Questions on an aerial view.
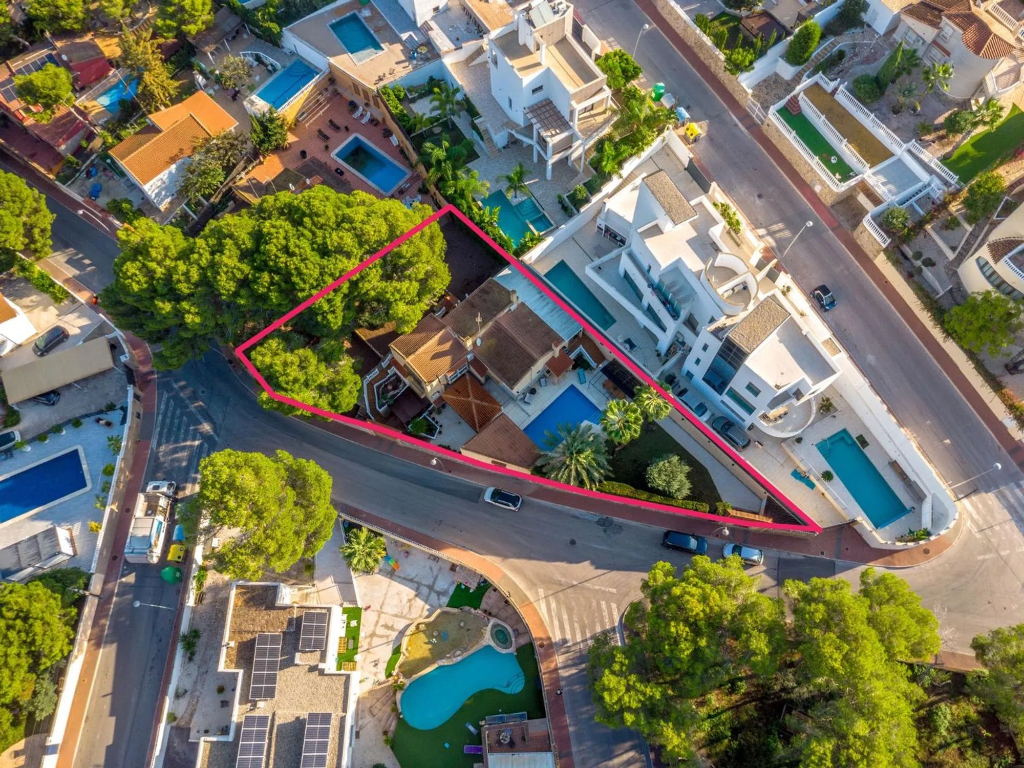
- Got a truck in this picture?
Yes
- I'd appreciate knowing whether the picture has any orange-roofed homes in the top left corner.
Yes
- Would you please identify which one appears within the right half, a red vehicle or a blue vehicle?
blue vehicle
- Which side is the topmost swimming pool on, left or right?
left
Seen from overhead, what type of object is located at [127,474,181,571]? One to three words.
truck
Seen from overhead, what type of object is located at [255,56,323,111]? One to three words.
swimming pool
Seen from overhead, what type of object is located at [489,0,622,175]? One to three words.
house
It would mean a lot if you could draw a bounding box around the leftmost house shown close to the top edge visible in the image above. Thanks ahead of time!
[0,38,120,192]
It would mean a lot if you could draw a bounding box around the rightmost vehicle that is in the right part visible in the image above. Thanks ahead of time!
[810,284,836,312]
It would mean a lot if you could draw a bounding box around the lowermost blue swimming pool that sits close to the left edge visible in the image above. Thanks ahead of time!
[0,442,92,526]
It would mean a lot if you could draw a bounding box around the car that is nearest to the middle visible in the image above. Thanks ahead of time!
[481,485,526,513]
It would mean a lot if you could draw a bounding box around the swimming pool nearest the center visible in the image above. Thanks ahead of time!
[520,382,608,453]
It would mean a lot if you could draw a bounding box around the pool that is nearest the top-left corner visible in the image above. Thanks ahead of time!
[94,70,144,117]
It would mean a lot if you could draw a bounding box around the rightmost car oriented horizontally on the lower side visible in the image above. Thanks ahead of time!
[720,541,766,567]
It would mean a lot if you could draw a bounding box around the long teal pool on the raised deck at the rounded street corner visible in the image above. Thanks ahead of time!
[815,427,911,530]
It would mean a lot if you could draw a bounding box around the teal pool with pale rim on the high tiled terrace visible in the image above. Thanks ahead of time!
[325,10,389,67]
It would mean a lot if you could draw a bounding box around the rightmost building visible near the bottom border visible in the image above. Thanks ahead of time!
[483,715,555,768]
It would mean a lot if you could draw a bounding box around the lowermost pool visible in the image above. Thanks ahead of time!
[399,645,526,731]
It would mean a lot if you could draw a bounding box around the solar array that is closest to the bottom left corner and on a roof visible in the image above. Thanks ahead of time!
[235,714,270,768]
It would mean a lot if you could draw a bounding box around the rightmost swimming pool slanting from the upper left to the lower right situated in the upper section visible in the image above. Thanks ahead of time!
[547,258,617,332]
